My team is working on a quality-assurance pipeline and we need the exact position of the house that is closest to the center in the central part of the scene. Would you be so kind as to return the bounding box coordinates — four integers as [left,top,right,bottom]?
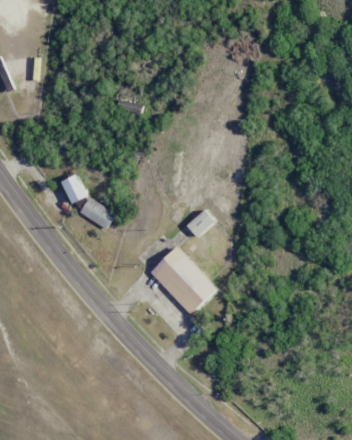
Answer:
[188,208,218,238]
